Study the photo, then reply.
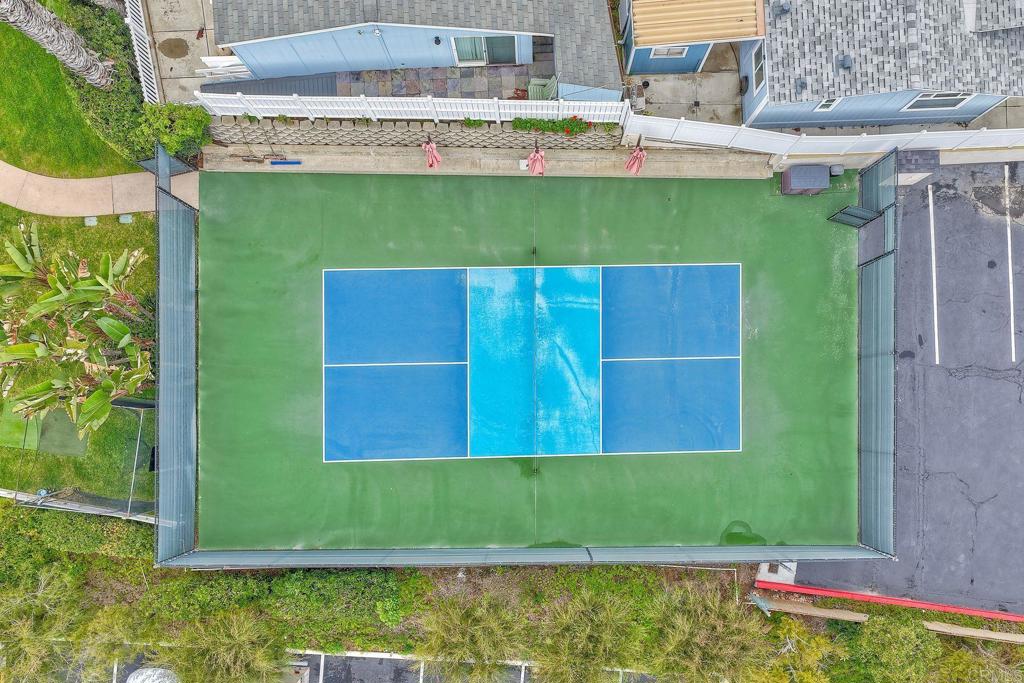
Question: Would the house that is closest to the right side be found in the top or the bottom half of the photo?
top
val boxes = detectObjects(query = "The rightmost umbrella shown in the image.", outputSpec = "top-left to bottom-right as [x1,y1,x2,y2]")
[620,132,645,171]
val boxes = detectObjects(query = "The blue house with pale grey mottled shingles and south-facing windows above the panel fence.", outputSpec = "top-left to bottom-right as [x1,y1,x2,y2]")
[747,0,1024,126]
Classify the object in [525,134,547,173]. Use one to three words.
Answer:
umbrella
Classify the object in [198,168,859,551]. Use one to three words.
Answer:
sports court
